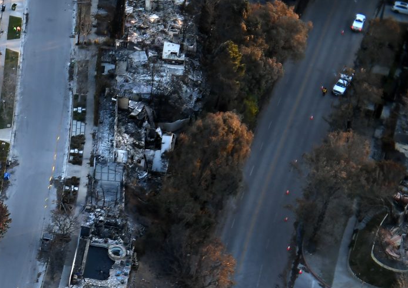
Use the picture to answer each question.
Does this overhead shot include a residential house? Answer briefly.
Yes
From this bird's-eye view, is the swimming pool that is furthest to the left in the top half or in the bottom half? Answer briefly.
bottom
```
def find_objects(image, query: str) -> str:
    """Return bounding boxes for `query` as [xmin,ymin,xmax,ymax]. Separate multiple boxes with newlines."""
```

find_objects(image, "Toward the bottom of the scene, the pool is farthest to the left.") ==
[82,243,116,280]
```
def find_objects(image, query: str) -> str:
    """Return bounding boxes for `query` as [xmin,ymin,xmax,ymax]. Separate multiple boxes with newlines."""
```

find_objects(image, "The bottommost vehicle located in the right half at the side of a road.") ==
[331,68,354,92]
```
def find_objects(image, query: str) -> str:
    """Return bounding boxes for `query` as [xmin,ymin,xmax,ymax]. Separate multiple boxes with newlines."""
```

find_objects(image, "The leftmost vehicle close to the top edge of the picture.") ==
[349,11,367,30]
